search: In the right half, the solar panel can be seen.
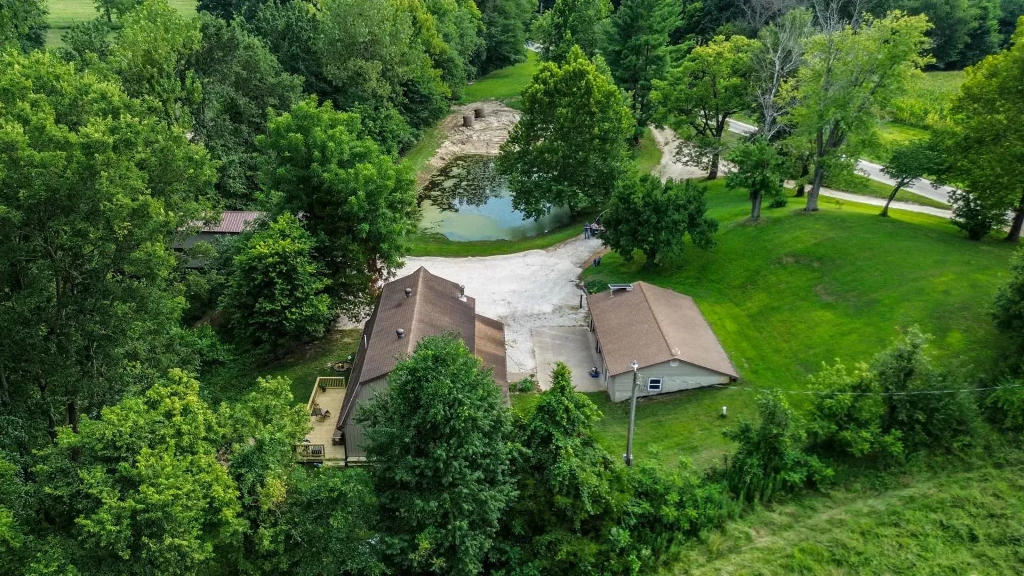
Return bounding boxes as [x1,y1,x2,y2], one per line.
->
[612,283,635,300]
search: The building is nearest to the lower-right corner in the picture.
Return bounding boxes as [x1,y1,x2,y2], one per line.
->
[587,279,738,404]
